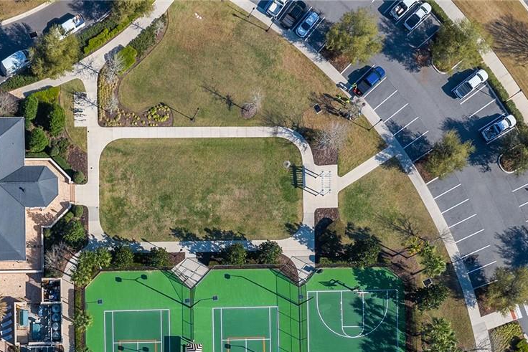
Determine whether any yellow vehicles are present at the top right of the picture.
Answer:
No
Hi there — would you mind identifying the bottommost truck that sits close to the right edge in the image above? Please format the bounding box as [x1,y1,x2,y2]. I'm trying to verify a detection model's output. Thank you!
[478,115,513,145]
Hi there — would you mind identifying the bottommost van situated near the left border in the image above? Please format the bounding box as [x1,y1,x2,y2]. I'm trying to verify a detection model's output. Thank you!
[0,52,34,81]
